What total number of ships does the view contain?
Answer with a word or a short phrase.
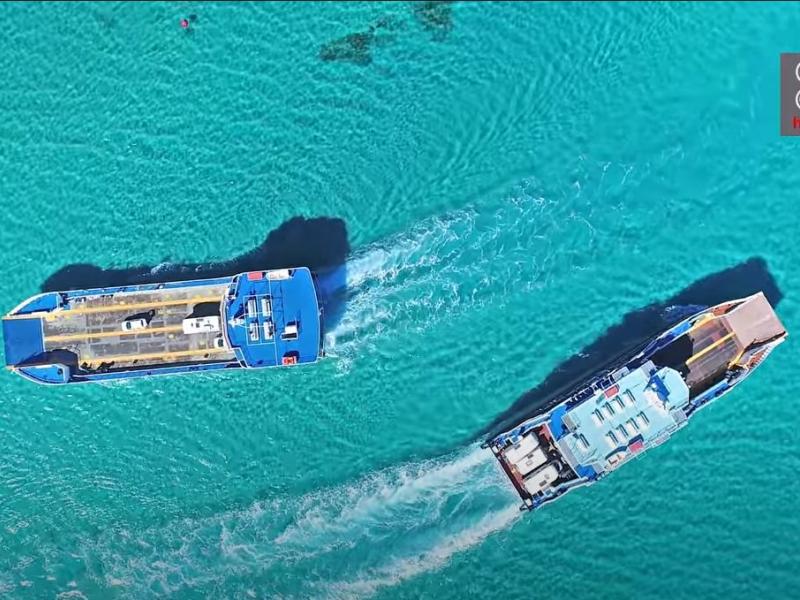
two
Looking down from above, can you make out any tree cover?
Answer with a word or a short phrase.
No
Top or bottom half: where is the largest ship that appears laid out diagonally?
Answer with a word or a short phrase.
bottom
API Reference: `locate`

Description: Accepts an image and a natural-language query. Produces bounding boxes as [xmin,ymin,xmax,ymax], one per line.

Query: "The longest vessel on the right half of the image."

[479,292,789,513]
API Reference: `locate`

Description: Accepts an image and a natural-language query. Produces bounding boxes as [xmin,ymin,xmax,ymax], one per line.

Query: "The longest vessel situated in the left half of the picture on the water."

[2,267,327,384]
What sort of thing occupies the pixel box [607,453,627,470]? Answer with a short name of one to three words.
boat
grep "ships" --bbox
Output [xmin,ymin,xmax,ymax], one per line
[479,292,789,513]
[2,267,327,384]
